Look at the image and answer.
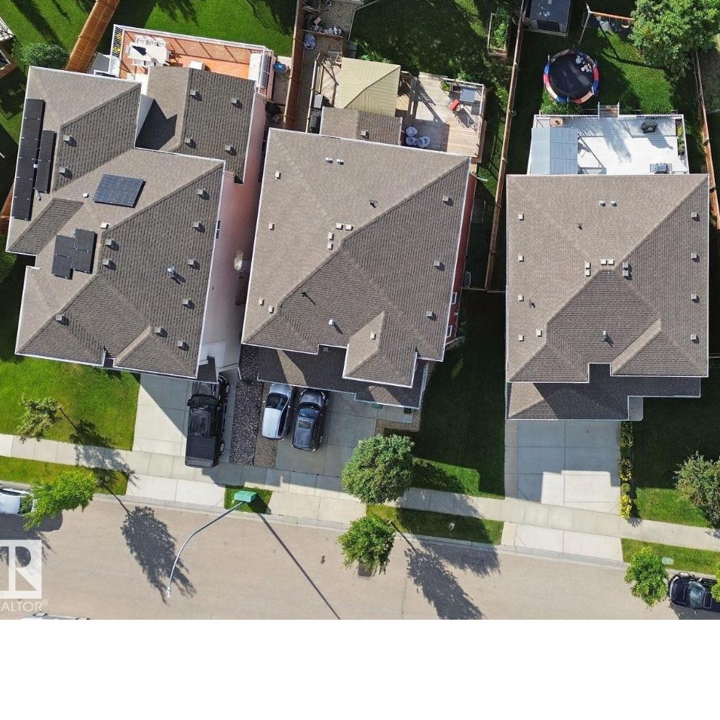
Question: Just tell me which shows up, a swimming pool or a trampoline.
trampoline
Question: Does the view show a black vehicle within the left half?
Yes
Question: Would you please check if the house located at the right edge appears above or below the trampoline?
below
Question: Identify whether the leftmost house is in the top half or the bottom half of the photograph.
top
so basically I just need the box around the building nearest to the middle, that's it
[238,106,485,411]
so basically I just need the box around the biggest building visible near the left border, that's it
[4,66,273,384]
